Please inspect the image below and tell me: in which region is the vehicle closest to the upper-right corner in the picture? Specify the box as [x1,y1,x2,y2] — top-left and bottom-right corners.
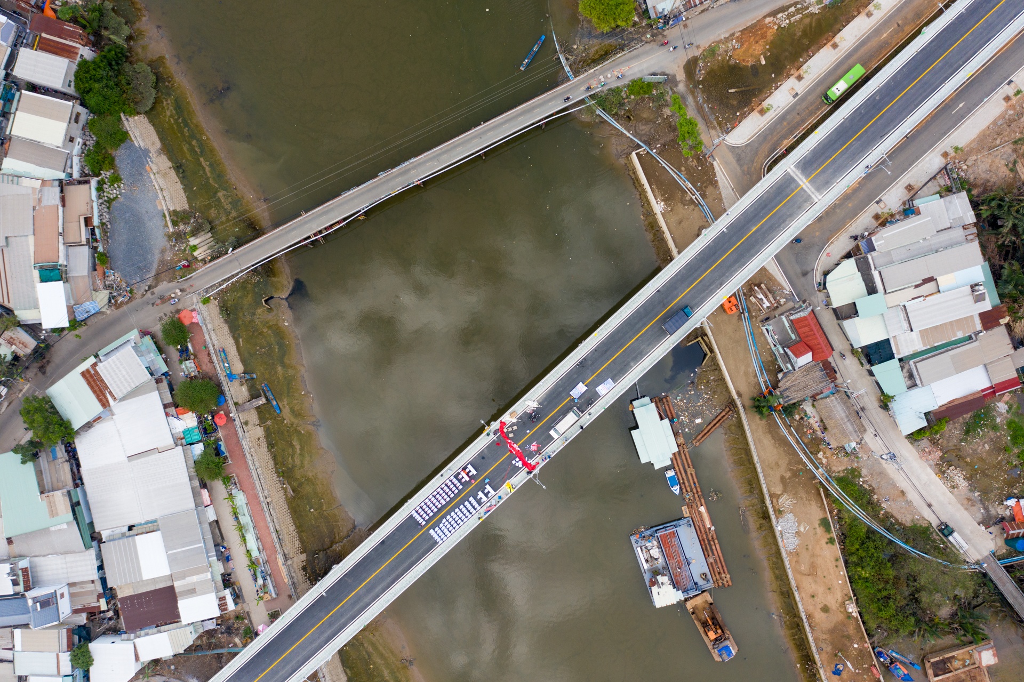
[817,64,865,109]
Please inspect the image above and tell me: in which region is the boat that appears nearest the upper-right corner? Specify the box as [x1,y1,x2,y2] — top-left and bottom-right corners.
[521,36,544,70]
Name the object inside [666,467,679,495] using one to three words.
boat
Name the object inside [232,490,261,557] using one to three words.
shed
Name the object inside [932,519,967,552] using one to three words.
truck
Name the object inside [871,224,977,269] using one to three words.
house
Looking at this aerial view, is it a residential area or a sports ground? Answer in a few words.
residential area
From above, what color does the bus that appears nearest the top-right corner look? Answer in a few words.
green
